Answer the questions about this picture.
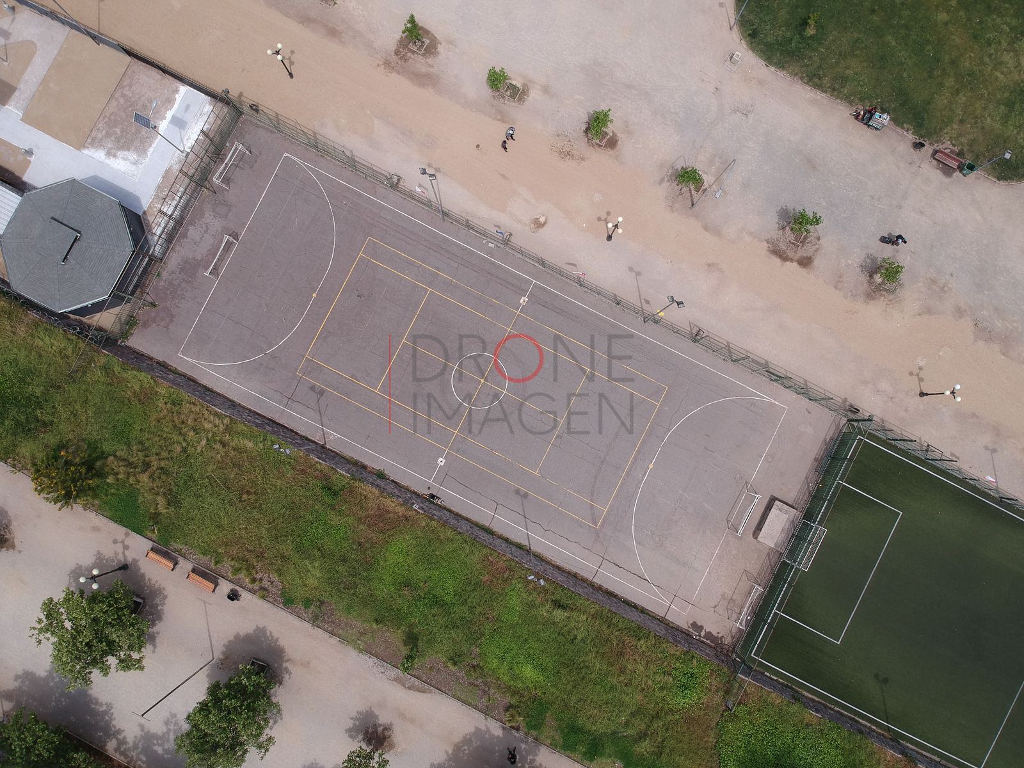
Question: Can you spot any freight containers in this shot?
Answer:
No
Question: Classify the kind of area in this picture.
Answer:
sports ground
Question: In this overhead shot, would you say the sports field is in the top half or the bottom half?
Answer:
bottom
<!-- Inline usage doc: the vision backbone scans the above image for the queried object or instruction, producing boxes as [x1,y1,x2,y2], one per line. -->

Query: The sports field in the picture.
[740,420,1024,764]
